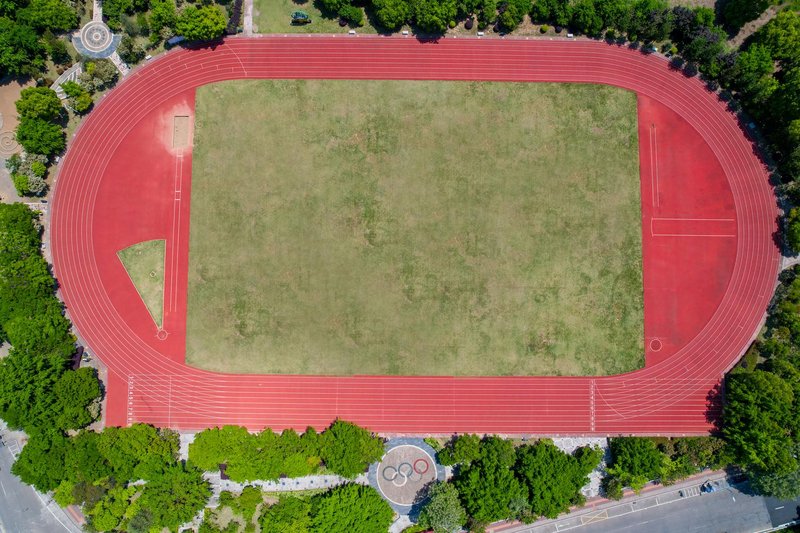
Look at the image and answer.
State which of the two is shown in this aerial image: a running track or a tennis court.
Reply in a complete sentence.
It is a running track that can be seen here.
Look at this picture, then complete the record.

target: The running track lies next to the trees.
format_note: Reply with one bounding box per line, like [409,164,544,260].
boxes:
[49,36,780,434]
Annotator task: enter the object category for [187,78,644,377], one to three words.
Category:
sports field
